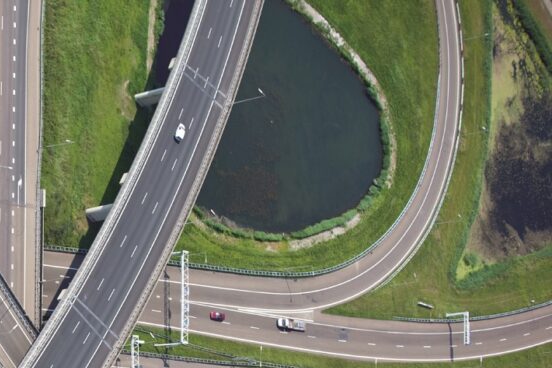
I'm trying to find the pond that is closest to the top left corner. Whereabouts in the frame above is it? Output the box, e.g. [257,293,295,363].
[144,0,383,236]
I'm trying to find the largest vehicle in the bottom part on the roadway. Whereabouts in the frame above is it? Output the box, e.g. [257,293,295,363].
[276,318,306,330]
